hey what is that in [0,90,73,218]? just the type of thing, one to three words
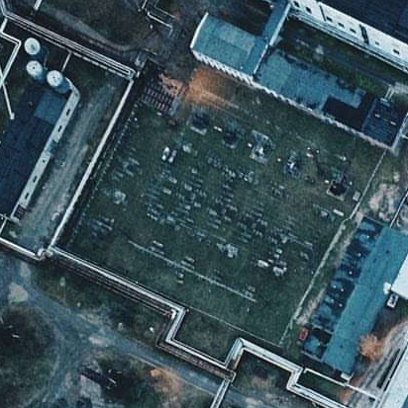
building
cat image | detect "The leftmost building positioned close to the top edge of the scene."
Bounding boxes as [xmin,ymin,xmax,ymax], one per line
[192,14,258,79]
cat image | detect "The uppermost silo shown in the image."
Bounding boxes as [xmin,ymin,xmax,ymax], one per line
[24,38,51,65]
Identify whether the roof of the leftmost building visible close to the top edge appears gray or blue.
blue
